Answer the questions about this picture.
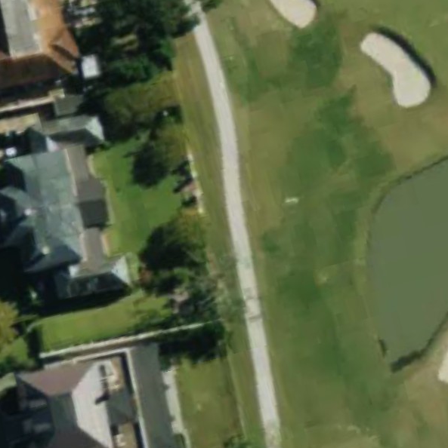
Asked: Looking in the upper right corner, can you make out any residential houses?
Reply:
No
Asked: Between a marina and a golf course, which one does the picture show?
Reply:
golf course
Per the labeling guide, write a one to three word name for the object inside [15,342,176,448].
house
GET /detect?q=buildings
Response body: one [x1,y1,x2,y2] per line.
[0,116,132,299]
[15,342,176,448]
[0,0,79,92]
[54,93,84,116]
